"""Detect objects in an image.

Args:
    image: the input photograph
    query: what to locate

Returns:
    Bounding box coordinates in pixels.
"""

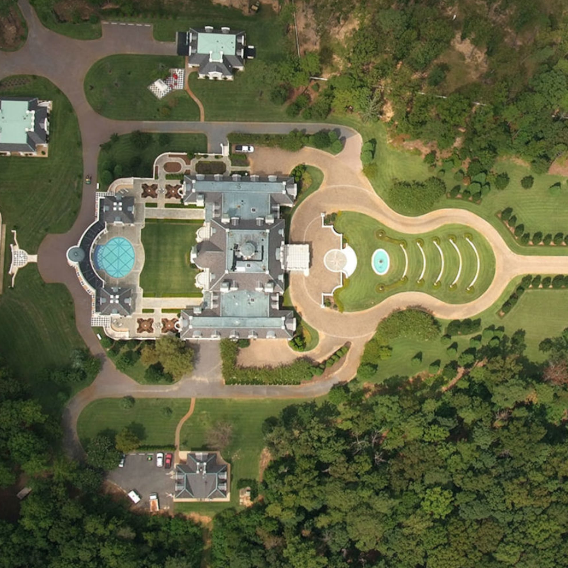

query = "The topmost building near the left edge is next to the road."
[0,96,53,158]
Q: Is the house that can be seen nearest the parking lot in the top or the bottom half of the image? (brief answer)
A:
bottom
